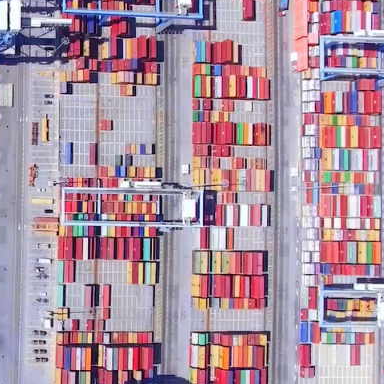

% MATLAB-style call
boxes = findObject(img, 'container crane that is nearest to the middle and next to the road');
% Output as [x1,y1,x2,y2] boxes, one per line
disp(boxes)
[60,181,206,235]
